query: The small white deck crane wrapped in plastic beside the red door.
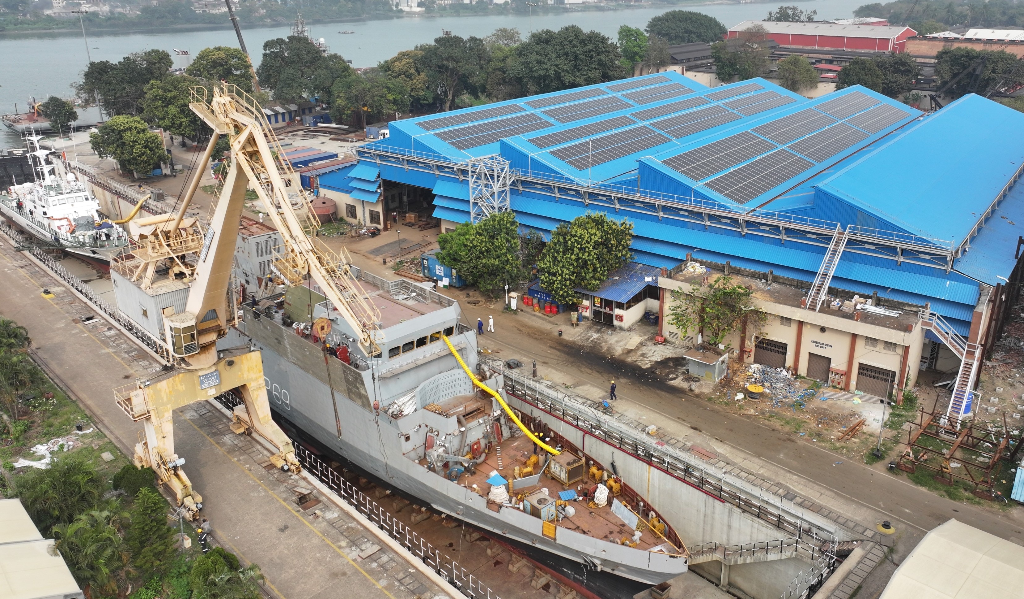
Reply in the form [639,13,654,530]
[433,450,478,478]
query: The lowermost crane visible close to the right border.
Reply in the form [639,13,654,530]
[938,34,1024,97]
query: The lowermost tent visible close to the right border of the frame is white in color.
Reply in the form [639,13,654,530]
[877,511,1024,599]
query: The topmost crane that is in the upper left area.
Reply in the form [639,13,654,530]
[224,0,290,137]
